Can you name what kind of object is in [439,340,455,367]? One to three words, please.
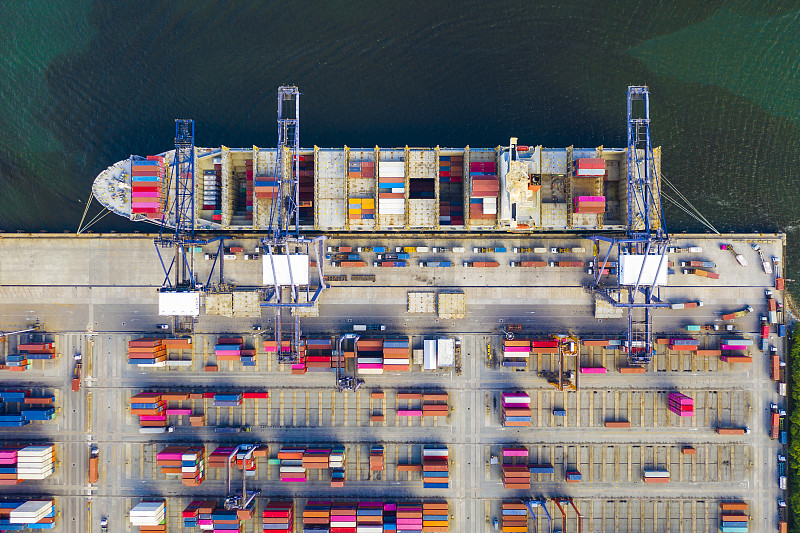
shed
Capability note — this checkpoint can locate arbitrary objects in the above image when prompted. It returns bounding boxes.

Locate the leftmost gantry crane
[155,117,238,334]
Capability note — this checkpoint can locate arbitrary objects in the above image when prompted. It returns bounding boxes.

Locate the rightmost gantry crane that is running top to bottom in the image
[584,84,673,365]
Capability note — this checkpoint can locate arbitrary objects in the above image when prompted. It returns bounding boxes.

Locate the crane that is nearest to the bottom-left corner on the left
[227,441,259,512]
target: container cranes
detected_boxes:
[338,334,362,399]
[155,117,238,334]
[523,498,555,533]
[546,332,581,392]
[552,496,586,533]
[227,441,259,512]
[584,84,673,365]
[259,86,335,363]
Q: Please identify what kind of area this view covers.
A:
port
